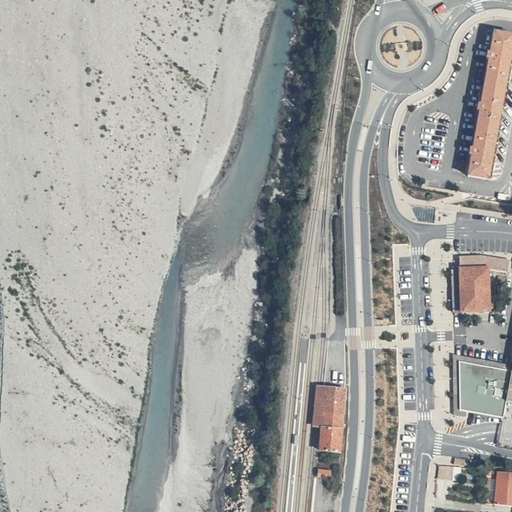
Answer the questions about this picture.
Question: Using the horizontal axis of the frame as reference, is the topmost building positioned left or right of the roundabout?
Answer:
to the right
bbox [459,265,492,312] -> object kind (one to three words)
house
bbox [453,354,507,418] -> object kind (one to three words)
building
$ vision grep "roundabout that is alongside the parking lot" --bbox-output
[355,0,462,94]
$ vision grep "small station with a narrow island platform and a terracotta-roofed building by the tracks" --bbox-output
[286,339,348,512]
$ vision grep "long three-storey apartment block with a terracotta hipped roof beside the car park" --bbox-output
[468,28,512,180]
